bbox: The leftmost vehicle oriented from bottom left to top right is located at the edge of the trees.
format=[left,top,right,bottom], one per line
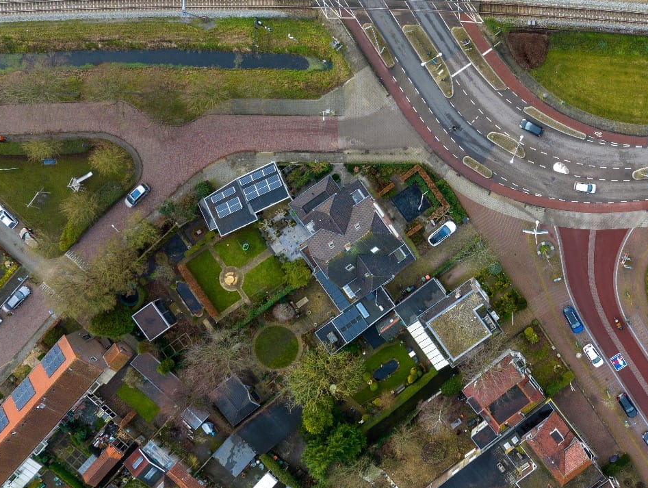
[2,286,31,311]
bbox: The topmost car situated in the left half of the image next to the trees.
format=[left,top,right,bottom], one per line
[125,181,151,208]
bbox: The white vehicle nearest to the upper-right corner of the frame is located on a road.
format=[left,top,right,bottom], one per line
[572,181,598,195]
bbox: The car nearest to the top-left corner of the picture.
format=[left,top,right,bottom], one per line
[0,204,19,229]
